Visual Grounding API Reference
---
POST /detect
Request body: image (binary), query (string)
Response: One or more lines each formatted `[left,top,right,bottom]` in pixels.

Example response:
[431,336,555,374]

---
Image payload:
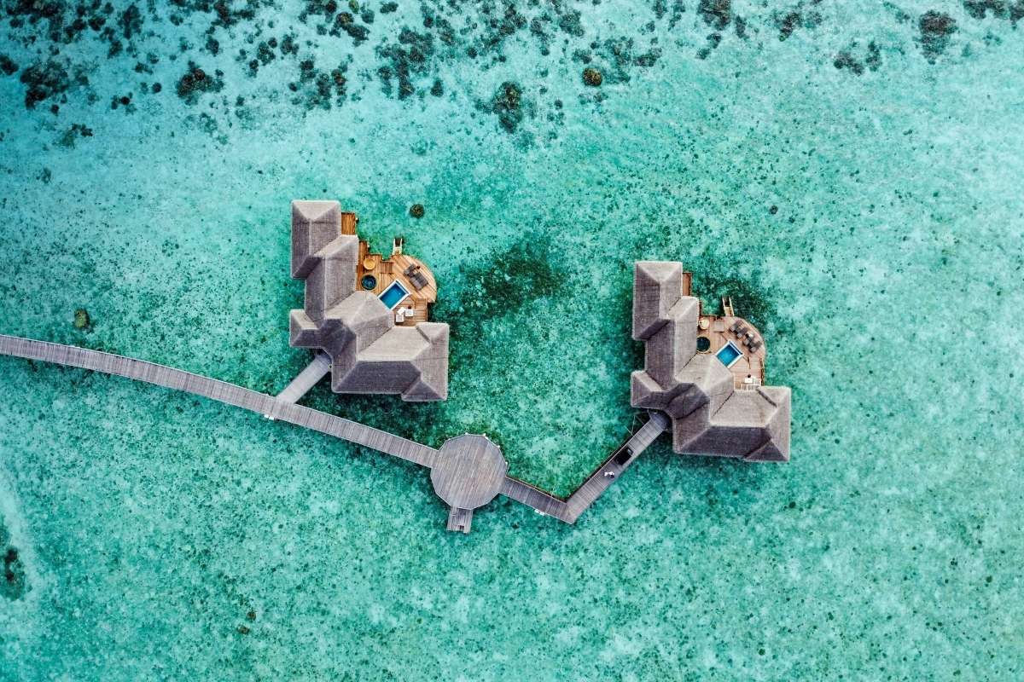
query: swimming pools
[716,342,741,366]
[379,282,407,307]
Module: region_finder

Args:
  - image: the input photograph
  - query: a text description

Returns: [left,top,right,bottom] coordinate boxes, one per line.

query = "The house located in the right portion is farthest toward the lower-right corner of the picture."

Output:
[630,261,791,463]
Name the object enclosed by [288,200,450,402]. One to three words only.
house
